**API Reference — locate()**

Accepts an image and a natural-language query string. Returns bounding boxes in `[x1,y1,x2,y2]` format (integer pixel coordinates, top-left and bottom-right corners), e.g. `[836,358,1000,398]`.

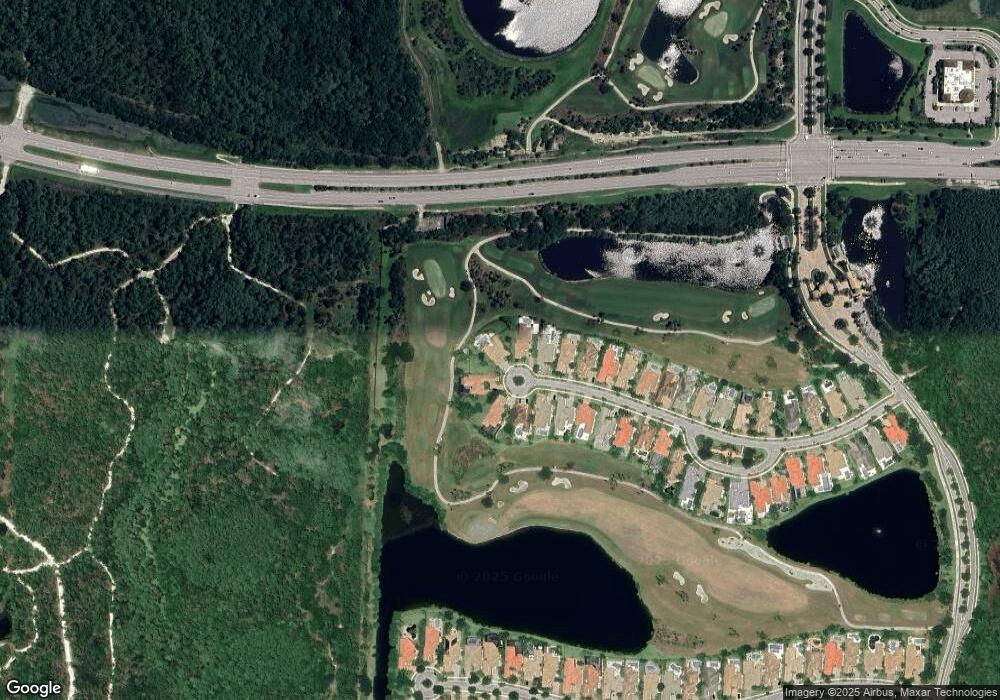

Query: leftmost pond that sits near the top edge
[463,0,600,57]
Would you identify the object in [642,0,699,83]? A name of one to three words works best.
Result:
pond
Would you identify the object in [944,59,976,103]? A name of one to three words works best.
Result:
building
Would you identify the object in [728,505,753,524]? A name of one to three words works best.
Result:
swimming pool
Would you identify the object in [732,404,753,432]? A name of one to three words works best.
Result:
house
